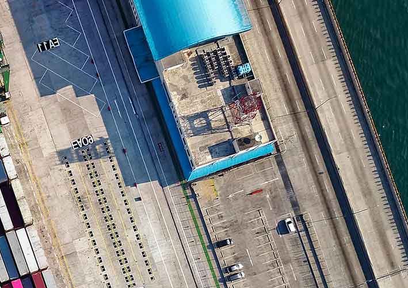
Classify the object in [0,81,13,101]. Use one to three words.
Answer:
vehicle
